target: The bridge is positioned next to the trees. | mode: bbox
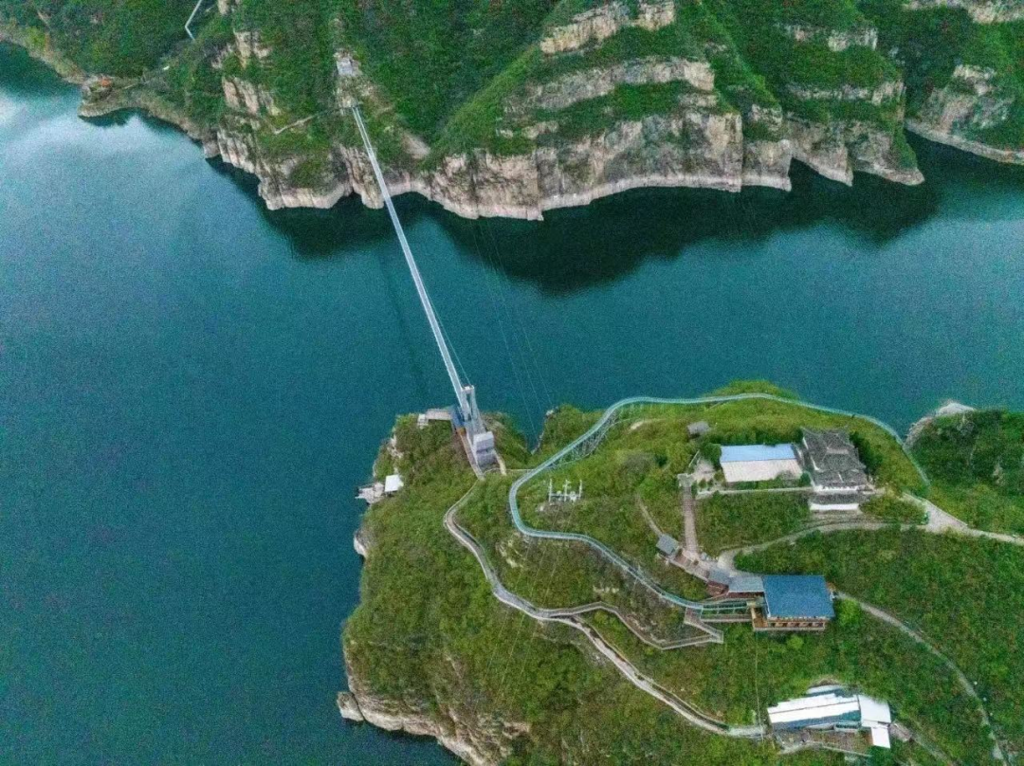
[351,101,497,463]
